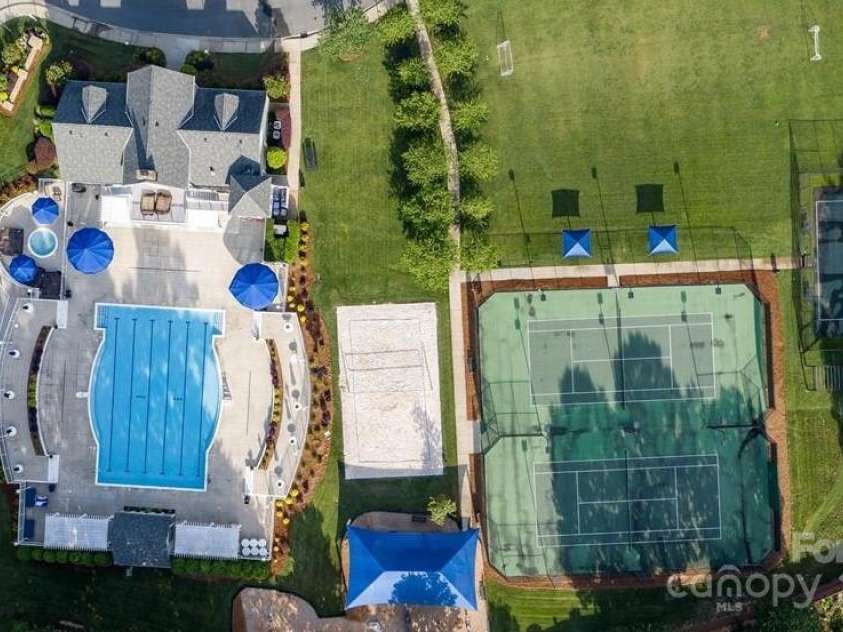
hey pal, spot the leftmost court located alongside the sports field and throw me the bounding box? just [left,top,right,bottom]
[337,302,443,479]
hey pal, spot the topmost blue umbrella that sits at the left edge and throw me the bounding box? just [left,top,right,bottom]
[31,197,59,224]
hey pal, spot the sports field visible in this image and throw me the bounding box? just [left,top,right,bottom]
[431,0,843,268]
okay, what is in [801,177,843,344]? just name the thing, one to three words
sports court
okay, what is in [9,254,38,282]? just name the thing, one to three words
umbrella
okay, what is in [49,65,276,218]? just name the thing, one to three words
house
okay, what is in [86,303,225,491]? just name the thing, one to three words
swimming pool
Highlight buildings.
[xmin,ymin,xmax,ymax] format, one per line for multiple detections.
[49,65,276,218]
[100,515,170,573]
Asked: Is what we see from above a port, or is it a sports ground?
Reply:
sports ground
